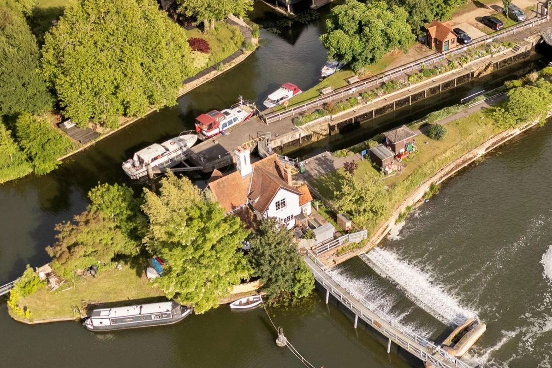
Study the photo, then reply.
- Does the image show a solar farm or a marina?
marina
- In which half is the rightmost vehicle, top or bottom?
top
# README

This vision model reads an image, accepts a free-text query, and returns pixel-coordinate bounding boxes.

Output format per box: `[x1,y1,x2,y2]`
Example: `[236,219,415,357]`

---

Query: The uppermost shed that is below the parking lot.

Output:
[380,125,418,155]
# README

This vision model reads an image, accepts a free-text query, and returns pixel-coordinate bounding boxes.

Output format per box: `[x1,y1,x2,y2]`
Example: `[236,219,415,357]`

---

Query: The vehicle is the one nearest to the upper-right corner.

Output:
[508,1,528,21]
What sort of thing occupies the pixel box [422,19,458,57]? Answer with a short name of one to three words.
building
